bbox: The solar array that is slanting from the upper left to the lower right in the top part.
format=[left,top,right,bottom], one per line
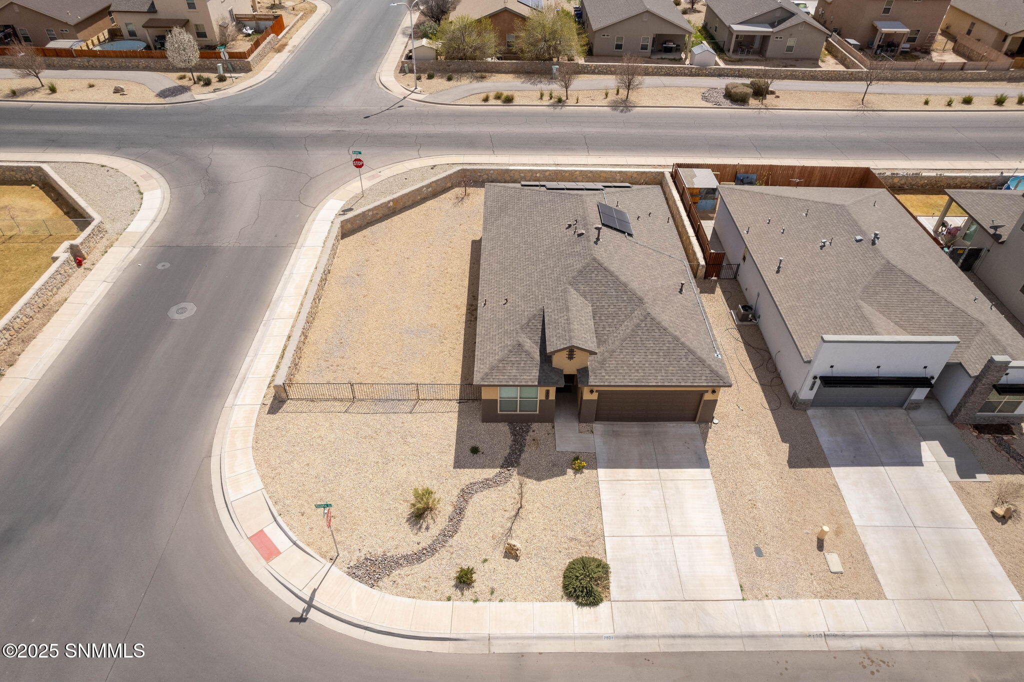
[598,202,633,235]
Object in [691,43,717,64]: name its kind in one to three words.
shed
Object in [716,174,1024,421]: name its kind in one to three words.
house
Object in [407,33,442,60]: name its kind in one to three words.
shed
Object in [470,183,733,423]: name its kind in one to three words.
house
